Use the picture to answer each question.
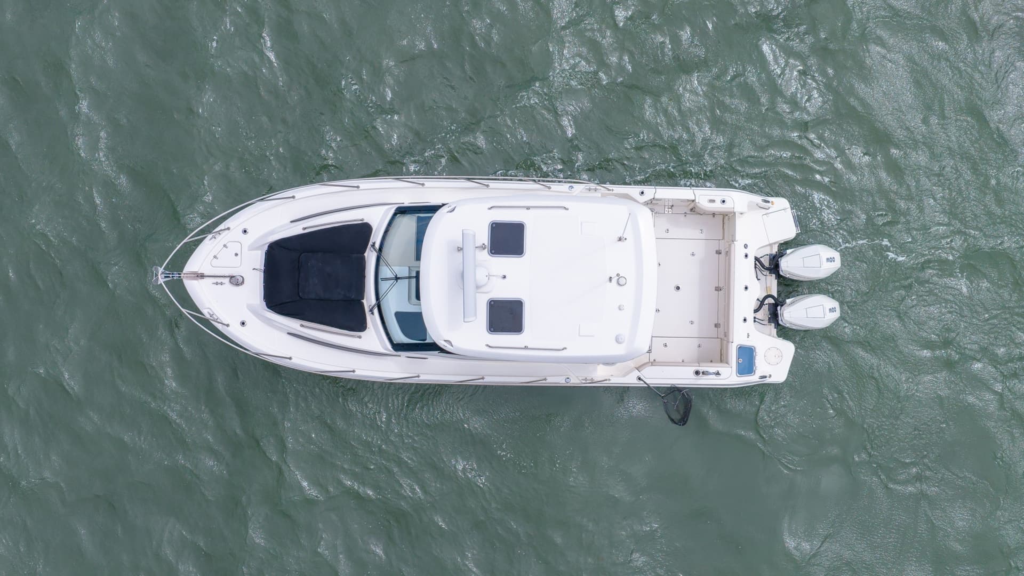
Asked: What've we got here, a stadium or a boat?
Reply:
boat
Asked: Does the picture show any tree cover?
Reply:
No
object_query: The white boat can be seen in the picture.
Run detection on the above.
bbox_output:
[158,176,841,387]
